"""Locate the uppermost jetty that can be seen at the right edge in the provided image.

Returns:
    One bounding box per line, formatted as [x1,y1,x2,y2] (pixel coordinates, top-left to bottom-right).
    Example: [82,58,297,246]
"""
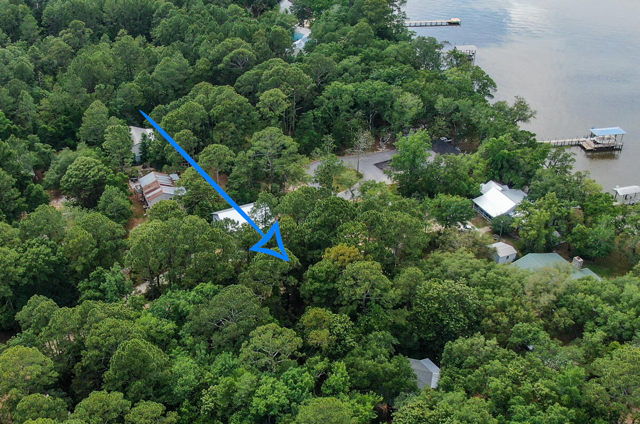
[542,137,624,153]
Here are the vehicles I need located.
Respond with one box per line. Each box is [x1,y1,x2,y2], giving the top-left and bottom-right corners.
[438,136,454,142]
[459,222,477,230]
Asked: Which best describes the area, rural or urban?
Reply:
rural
